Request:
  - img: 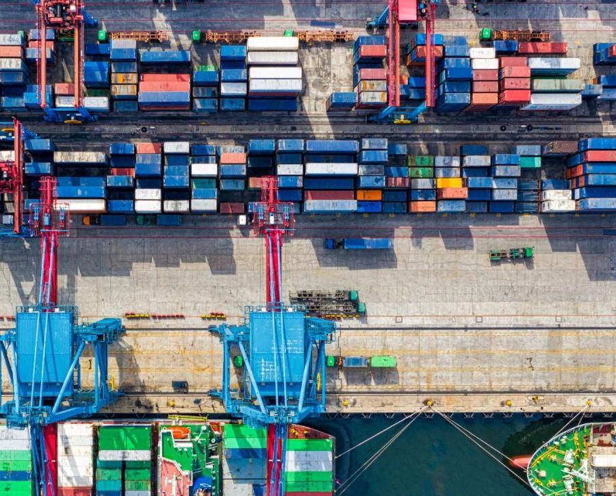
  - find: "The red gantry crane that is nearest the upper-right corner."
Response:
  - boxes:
[363,0,442,127]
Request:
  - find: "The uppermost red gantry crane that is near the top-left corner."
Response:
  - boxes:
[35,0,98,127]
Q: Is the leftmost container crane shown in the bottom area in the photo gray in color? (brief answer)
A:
No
